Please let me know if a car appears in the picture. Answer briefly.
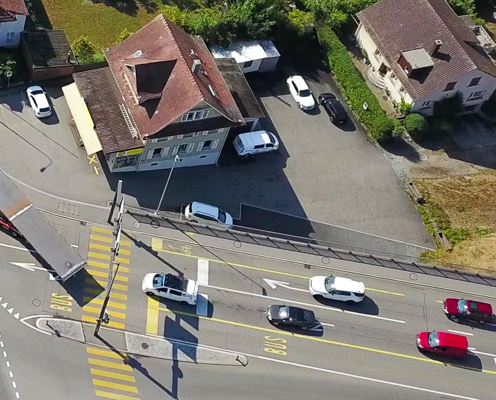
Yes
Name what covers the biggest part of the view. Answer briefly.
paved ground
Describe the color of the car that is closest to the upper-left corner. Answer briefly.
white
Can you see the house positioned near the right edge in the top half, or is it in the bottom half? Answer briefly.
top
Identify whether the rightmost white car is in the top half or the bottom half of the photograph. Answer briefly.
bottom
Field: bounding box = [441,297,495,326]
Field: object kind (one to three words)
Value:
car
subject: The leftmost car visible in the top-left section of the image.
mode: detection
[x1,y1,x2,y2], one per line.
[26,87,51,121]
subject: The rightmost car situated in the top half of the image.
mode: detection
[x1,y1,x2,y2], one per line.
[316,90,352,129]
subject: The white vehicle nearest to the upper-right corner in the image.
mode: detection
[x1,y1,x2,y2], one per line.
[287,74,314,112]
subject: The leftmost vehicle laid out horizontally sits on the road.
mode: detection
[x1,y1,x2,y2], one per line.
[143,271,197,303]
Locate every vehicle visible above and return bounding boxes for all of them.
[441,297,495,326]
[316,90,352,129]
[265,304,318,332]
[231,129,281,158]
[143,271,197,303]
[26,87,51,121]
[287,74,314,112]
[415,329,471,360]
[182,195,236,230]
[312,273,364,304]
